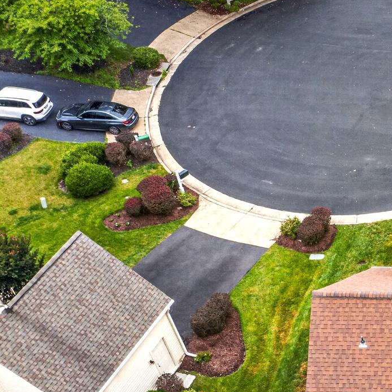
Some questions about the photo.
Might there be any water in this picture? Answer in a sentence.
No, no water is visible.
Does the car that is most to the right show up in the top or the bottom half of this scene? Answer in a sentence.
It is in the top half that the car that is most to the right appears.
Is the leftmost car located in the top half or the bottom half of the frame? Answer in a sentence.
It is in the top half that the leftmost car appears.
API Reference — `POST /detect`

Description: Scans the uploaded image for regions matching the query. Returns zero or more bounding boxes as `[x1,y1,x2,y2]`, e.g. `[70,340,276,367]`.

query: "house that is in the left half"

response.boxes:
[0,237,209,392]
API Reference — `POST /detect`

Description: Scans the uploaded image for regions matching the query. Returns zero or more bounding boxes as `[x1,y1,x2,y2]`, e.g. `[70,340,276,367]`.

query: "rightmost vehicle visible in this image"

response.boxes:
[52,99,139,135]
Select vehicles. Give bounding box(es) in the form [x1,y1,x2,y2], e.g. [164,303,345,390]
[0,85,51,126]
[52,99,139,135]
